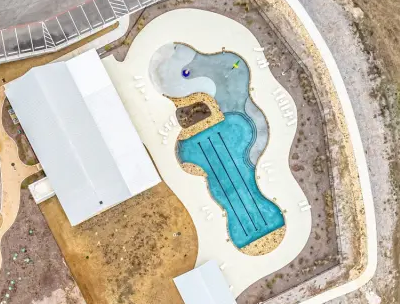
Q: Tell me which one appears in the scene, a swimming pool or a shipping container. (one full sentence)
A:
Of the two, only a swimming pool appears.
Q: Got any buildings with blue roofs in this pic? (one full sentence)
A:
No, the frame has no building with a blue roof in it.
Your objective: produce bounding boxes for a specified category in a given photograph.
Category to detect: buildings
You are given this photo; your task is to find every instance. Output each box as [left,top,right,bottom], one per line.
[173,260,237,304]
[3,48,162,226]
